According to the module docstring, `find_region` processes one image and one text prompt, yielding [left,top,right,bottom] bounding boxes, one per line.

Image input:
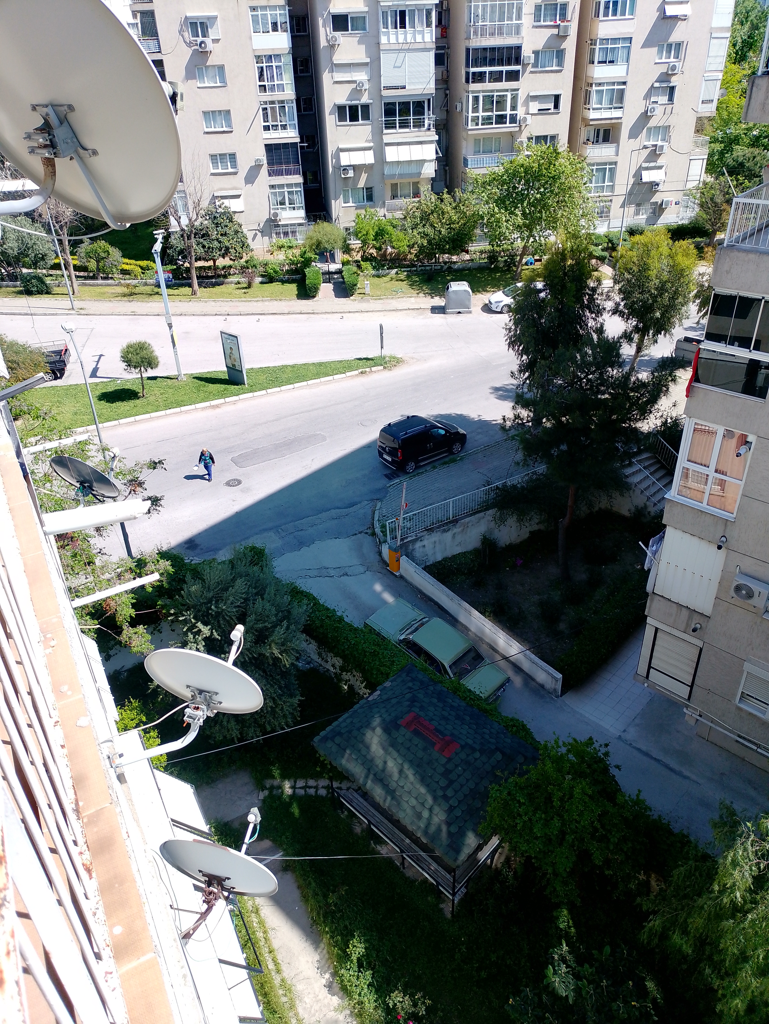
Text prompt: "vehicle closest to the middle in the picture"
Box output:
[376,414,468,474]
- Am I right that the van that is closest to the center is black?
Yes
